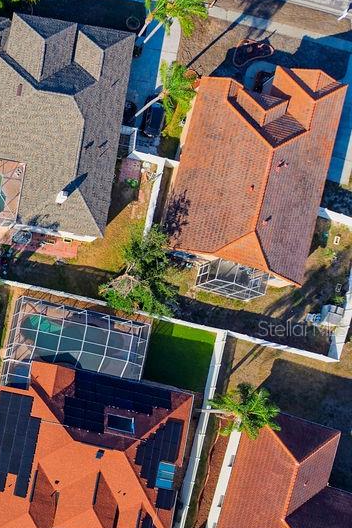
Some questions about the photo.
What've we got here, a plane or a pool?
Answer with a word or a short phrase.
pool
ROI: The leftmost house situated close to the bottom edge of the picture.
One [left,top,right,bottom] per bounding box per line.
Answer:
[0,361,193,528]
